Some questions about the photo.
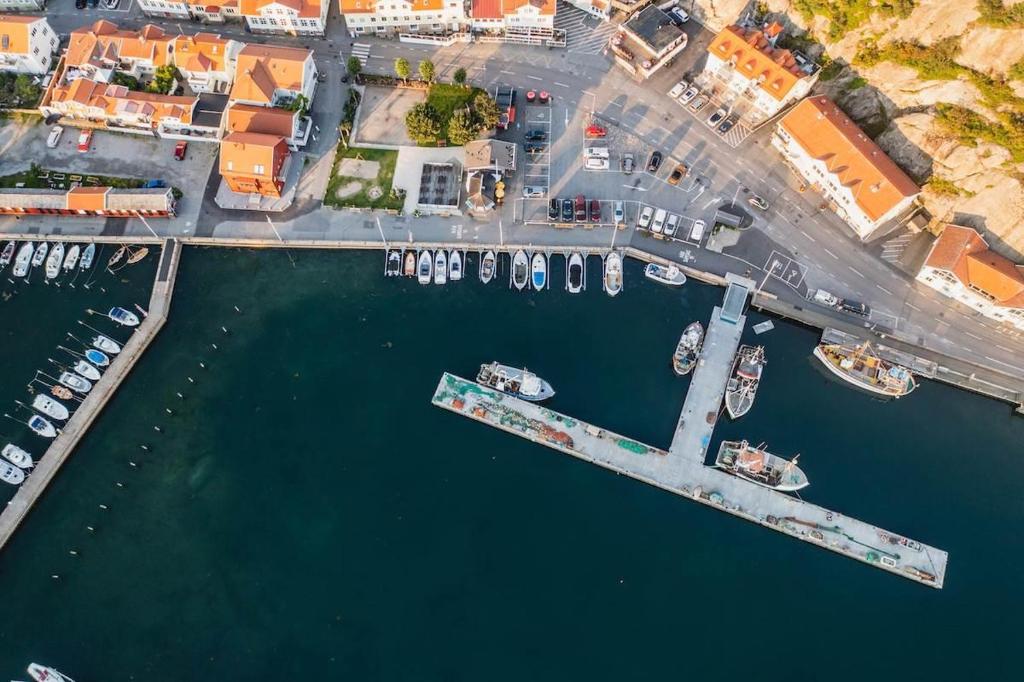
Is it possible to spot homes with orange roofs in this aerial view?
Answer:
Yes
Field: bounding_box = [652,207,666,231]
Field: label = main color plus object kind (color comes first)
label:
white car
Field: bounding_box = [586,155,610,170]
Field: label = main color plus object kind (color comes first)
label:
white vehicle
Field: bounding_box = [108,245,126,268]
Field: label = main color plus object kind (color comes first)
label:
gray boat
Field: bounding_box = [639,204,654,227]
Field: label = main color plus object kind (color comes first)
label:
white car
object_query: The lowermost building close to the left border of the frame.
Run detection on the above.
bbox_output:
[0,186,177,217]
